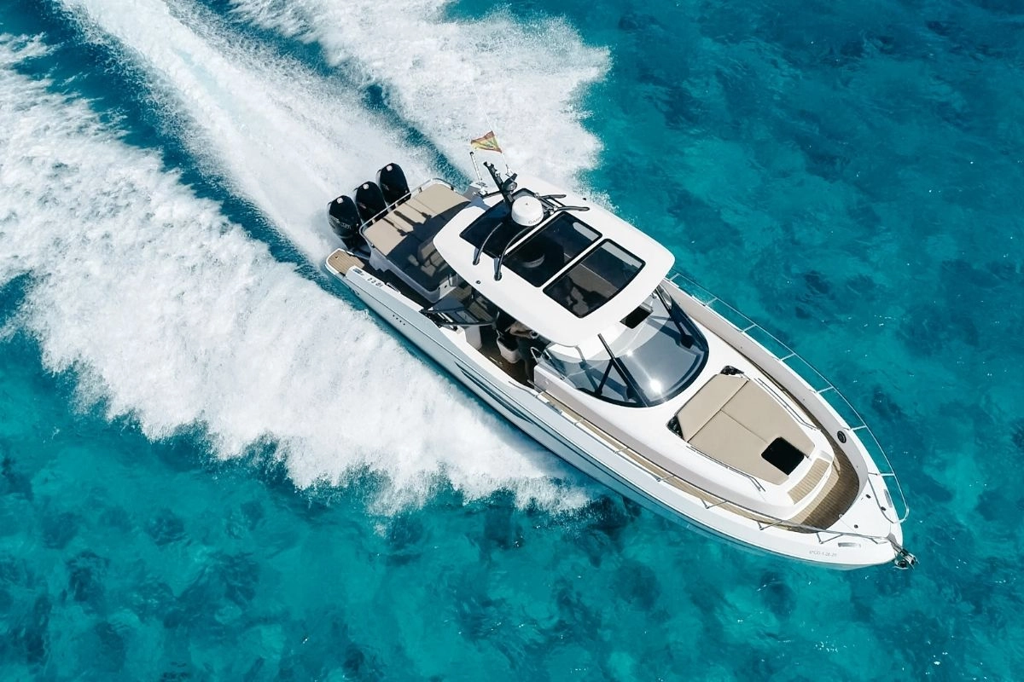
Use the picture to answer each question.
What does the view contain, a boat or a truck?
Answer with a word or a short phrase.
boat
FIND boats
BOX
[325,90,926,566]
